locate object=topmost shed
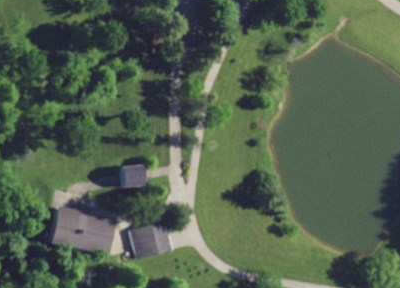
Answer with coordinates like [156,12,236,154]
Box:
[119,164,144,188]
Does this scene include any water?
Yes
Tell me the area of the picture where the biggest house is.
bottom left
